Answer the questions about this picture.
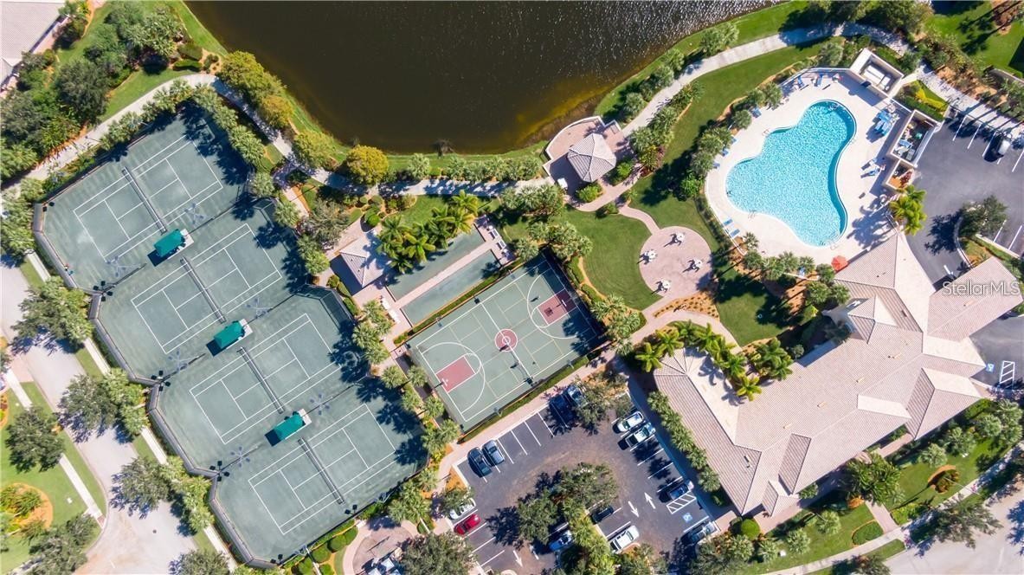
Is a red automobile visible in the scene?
Yes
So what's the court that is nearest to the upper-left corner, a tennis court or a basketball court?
tennis court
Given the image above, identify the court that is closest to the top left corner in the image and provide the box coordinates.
[43,106,266,291]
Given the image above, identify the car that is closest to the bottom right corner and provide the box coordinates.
[689,520,719,544]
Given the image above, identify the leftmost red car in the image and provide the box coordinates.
[454,512,482,534]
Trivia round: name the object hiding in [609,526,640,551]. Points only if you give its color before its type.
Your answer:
white car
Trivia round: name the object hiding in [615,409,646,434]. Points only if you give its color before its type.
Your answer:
white car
